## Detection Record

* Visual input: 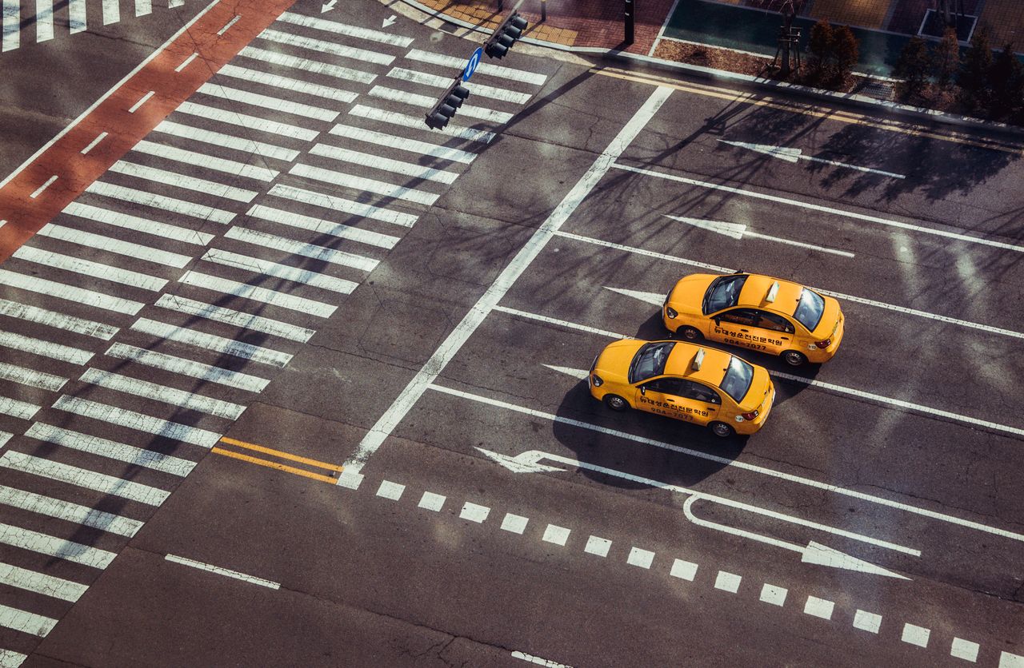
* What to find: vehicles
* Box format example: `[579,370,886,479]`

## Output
[587,331,776,437]
[661,264,845,365]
